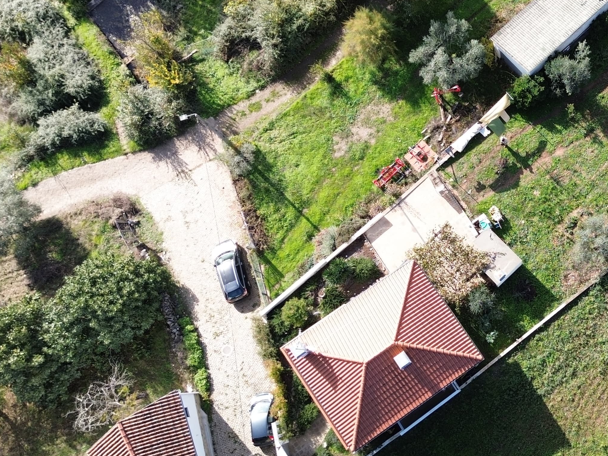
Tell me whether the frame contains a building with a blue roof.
No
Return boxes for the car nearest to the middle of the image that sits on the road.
[211,238,251,306]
